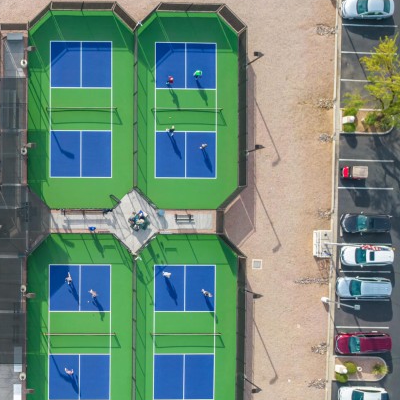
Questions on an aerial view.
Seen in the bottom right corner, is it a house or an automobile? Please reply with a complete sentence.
You can see an automobile in the bottom right corner.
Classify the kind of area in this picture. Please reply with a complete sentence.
The picture captures a sports ground.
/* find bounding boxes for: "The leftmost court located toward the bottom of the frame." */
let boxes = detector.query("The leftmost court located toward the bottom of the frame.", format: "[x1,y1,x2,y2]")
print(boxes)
[28,234,134,400]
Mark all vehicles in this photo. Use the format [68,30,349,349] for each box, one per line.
[342,212,398,236]
[341,166,375,179]
[337,331,398,356]
[339,275,398,300]
[342,244,398,268]
[340,385,392,400]
[343,0,398,20]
